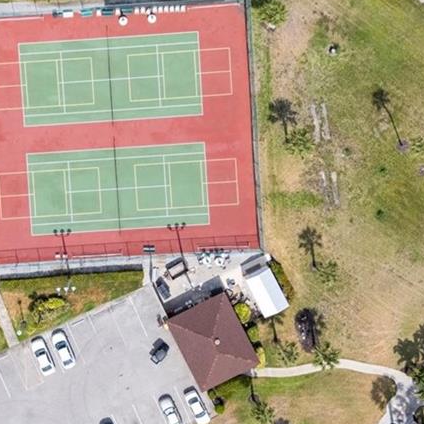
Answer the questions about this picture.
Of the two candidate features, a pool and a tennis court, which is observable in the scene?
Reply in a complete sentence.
This aerial view contains a tennis court.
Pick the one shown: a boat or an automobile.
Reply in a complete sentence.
The image shows an automobile.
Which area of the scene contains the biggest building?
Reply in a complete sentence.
Look in the bottom portion of the view to spot the biggest building.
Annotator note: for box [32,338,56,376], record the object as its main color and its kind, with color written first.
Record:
white car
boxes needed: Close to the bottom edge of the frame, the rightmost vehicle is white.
[184,388,209,424]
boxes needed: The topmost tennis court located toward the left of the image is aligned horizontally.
[0,4,253,141]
